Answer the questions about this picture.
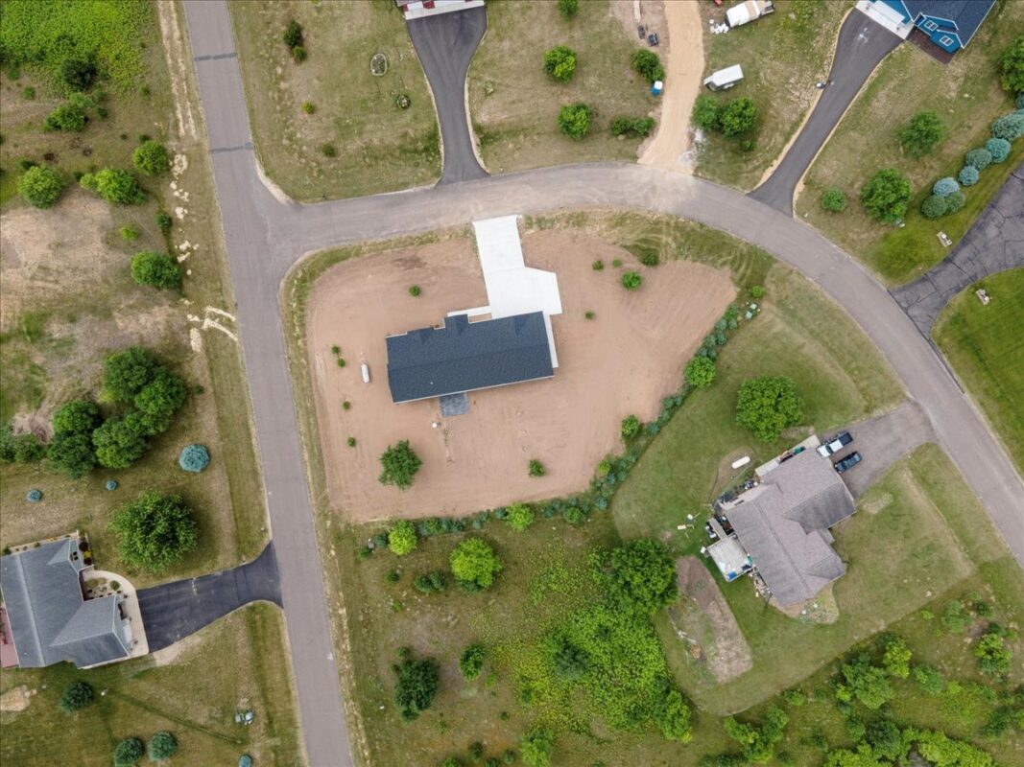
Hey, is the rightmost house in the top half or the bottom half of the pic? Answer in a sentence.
It is in the top half that the rightmost house appears.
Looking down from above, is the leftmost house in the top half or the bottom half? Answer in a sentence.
Seen from above, the leftmost house lies in the bottom half of the view.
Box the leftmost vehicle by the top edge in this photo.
[646,32,659,49]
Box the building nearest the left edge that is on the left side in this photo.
[0,537,137,669]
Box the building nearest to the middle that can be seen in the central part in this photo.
[385,310,553,403]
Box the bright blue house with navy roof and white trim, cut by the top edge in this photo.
[858,0,994,56]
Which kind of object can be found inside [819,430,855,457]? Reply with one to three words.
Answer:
truck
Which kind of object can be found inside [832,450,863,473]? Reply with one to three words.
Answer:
car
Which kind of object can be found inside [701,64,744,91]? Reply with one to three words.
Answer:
trailer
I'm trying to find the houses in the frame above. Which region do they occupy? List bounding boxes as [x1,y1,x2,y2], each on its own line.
[394,0,488,16]
[0,537,137,669]
[725,446,855,603]
[858,0,994,56]
[385,310,553,403]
